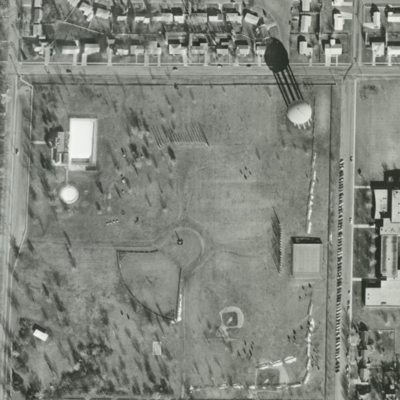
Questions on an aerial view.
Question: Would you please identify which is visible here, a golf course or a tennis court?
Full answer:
Looking from above, you can make out a tennis court.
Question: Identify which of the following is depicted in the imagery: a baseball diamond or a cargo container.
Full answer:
I can see a baseball diamond in this picture.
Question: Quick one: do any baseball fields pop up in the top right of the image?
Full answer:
No, the scene shows no baseball field in the top right of the image.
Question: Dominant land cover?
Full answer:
Most of the picture is covered by grass.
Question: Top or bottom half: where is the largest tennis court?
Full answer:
The largest tennis court sits in the bottom half of the picture.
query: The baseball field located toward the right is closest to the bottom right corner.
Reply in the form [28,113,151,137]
[256,366,289,387]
